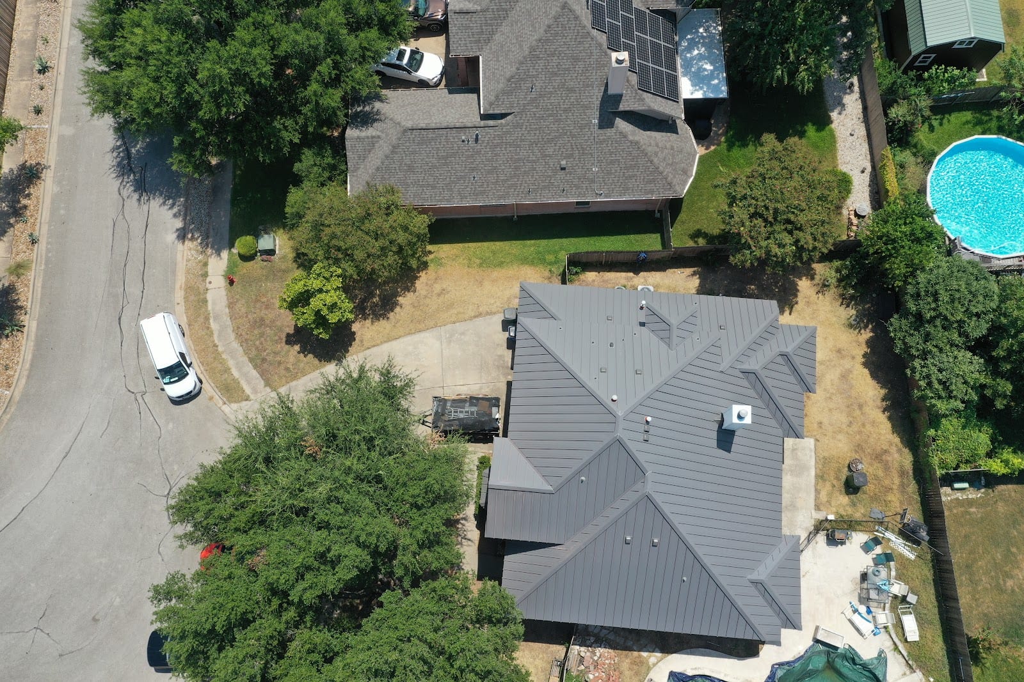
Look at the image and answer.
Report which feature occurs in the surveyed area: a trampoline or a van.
van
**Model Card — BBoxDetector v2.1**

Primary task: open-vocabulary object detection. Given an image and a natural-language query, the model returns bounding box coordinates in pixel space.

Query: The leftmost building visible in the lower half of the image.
[485,281,819,645]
